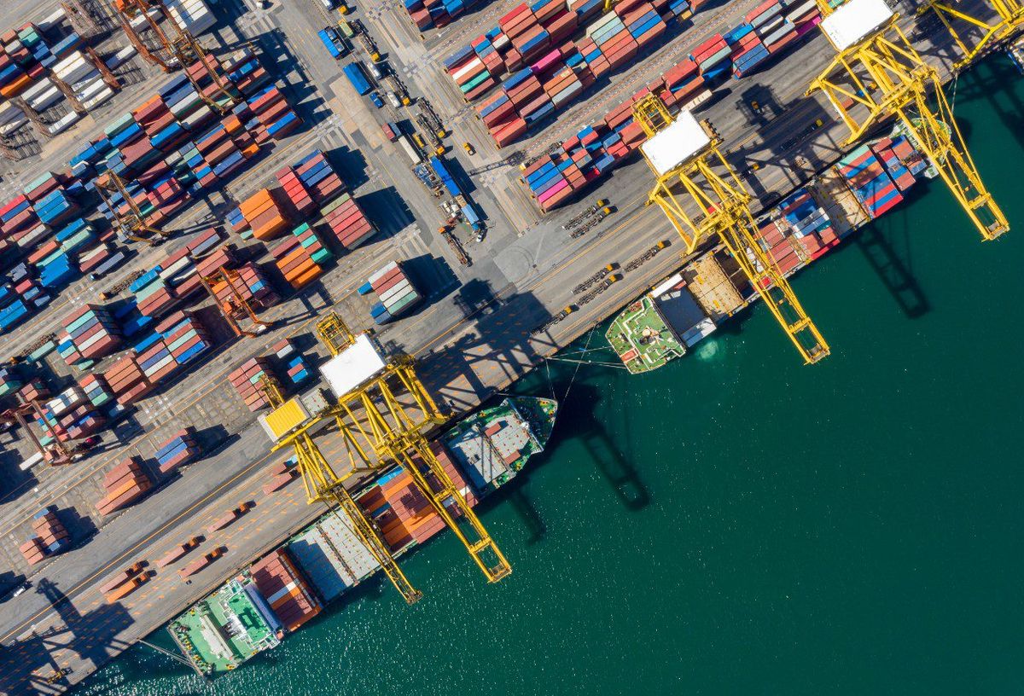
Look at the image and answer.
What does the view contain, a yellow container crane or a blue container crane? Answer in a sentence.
It is a yellow container crane that can be seen here.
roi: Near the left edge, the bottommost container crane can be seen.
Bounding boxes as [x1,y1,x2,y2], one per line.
[11,396,101,467]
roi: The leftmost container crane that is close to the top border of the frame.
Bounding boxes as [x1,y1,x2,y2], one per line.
[111,0,197,87]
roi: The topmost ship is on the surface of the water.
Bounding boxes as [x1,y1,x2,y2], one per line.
[999,38,1024,100]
